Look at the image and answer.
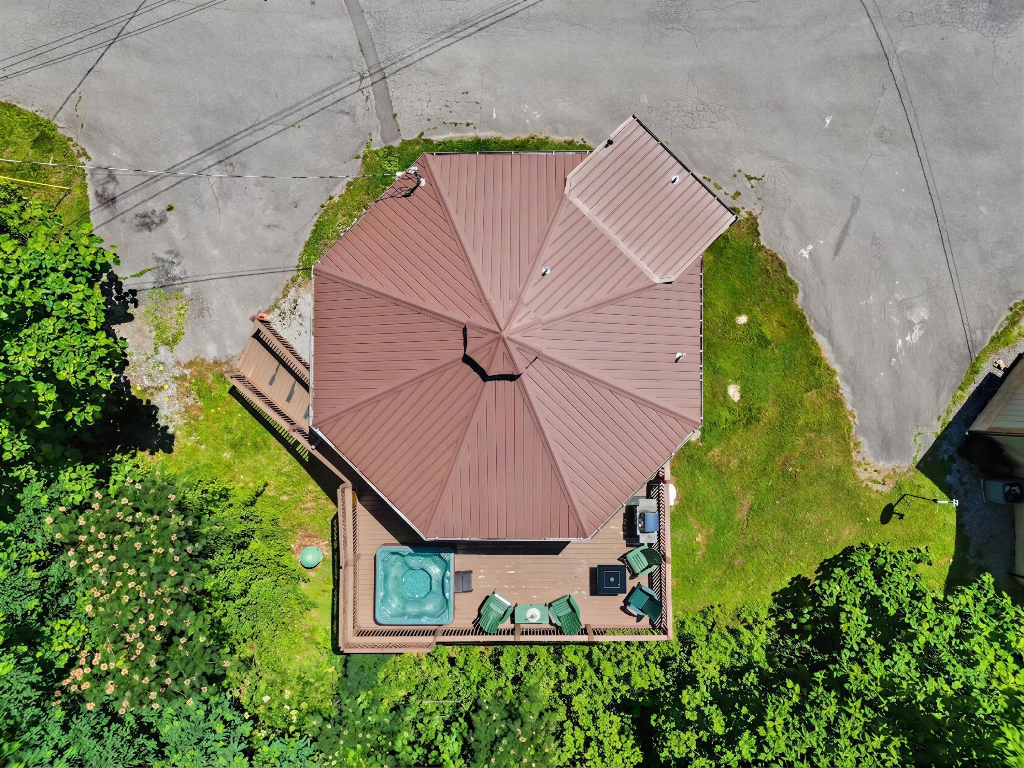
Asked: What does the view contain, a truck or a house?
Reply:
house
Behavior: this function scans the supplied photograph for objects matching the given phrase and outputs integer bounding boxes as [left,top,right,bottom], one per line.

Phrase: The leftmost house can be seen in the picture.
[310,113,738,541]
